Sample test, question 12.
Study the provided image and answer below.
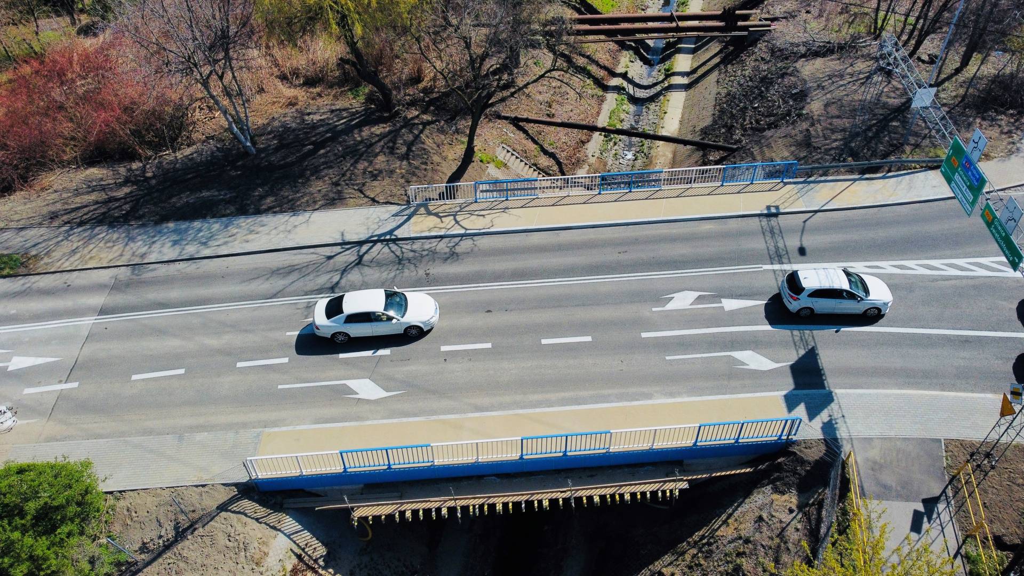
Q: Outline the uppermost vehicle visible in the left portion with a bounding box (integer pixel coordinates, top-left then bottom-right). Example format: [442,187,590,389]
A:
[313,284,438,342]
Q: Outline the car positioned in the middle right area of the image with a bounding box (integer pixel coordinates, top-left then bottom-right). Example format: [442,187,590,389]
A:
[783,264,893,316]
